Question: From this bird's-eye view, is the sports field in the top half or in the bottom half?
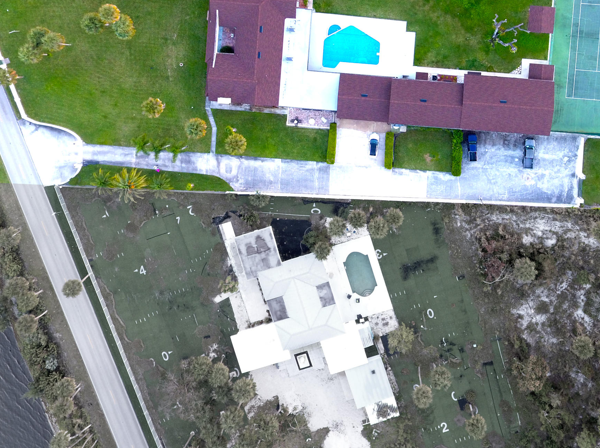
bottom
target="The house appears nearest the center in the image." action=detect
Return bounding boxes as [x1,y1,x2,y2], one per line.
[219,220,374,374]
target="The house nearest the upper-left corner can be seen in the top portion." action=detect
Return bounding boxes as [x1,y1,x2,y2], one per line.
[204,0,340,111]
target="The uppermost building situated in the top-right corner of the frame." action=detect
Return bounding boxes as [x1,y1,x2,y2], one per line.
[527,5,555,34]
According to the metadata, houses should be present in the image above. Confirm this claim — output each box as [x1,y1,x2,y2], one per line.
[204,0,340,111]
[219,220,374,374]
